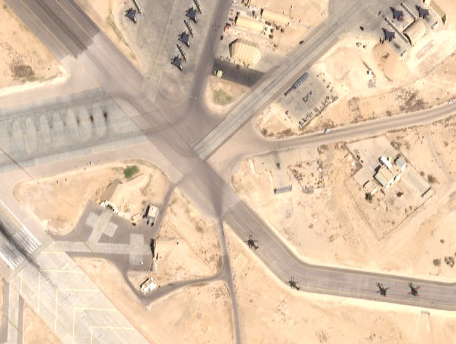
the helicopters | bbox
[377,282,389,296]
[244,235,257,249]
[408,283,421,297]
[287,278,301,290]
